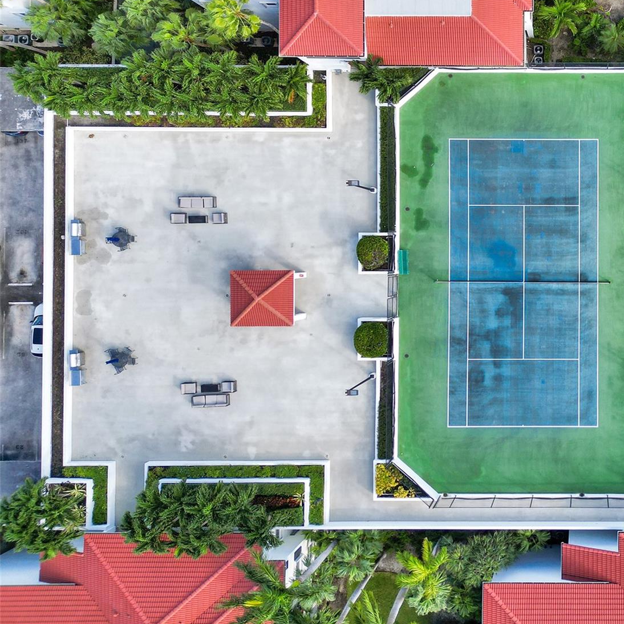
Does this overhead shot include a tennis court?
Yes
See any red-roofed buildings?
Yes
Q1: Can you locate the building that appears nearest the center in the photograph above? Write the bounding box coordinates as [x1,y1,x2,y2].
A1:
[228,268,310,329]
